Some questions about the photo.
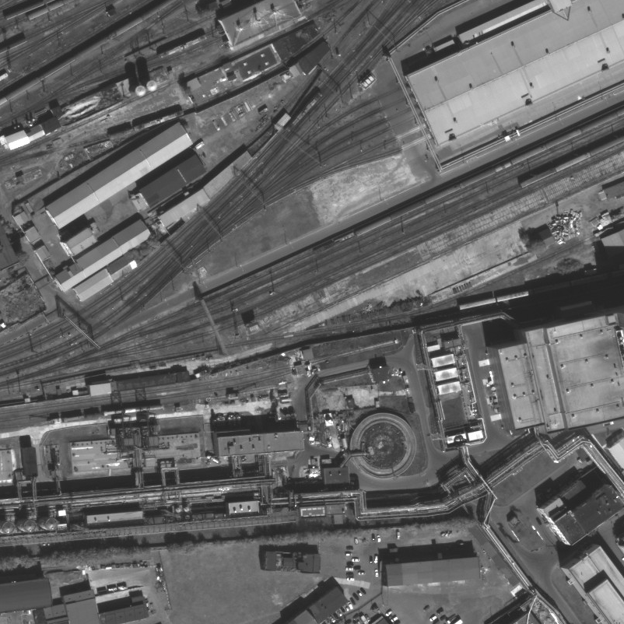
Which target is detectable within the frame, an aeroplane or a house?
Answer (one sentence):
Looking from above, you can make out a house.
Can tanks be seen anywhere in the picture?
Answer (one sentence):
Yes, I can see a tank in this picture.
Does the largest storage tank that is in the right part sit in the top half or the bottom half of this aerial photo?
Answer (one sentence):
The bottom half of the photo is where the largest storage tank that is in the right part is.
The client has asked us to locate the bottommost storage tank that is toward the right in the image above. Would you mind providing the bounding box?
[342,412,415,478]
